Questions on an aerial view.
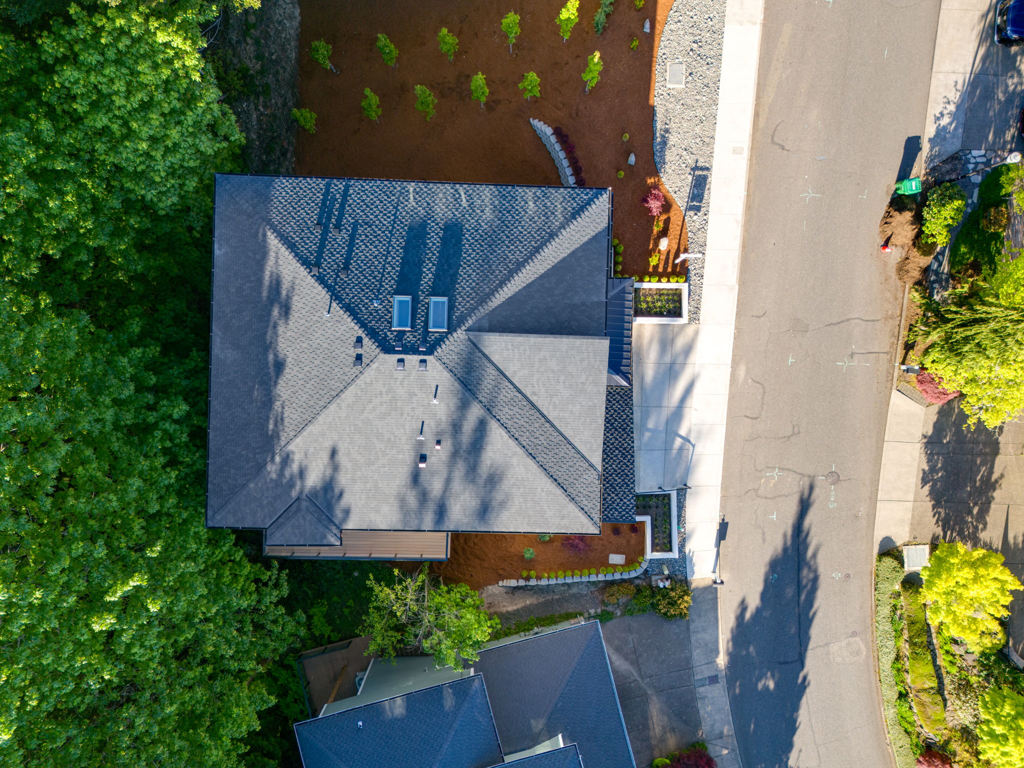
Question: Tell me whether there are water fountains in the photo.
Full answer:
No, I can't see a single water fountain in this photo.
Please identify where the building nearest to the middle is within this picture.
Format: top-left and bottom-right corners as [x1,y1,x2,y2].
[204,175,638,560]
